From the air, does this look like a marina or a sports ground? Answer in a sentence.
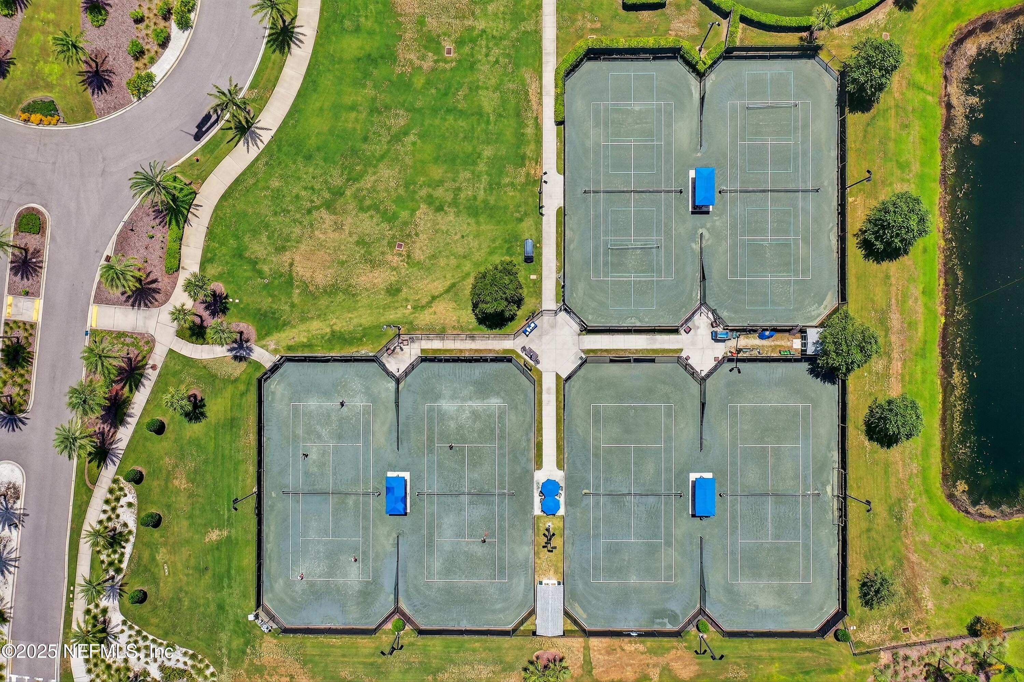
The area seen from above is a sports ground.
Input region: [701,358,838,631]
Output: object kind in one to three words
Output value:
tennis court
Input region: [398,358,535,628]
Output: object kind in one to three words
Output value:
tennis court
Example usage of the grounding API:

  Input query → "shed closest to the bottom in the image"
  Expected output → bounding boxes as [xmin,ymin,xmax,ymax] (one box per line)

[536,581,563,636]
